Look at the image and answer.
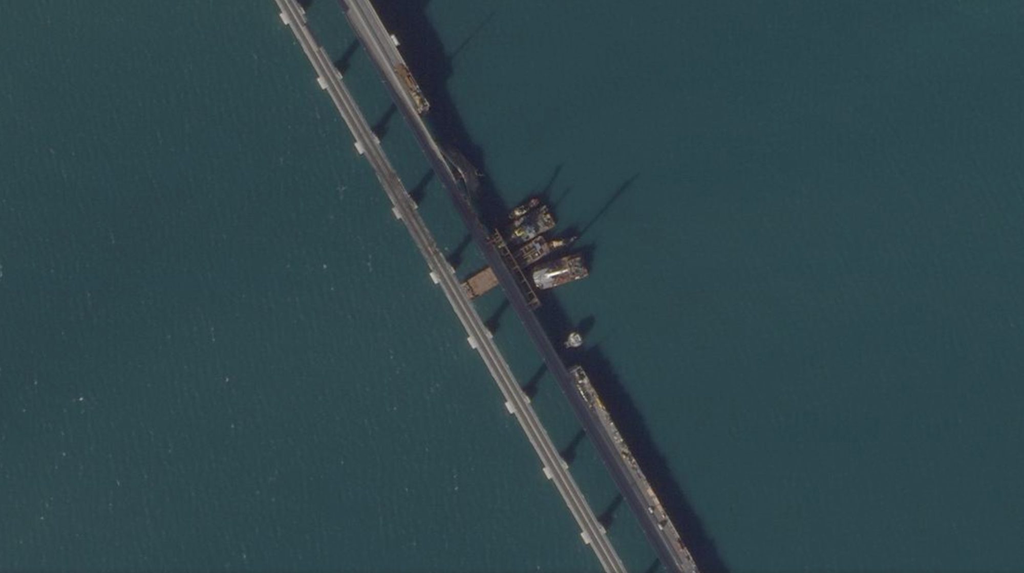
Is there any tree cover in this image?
No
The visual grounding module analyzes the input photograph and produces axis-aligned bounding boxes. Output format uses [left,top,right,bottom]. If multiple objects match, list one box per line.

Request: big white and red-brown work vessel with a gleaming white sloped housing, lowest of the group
[534,257,587,288]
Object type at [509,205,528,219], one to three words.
boat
